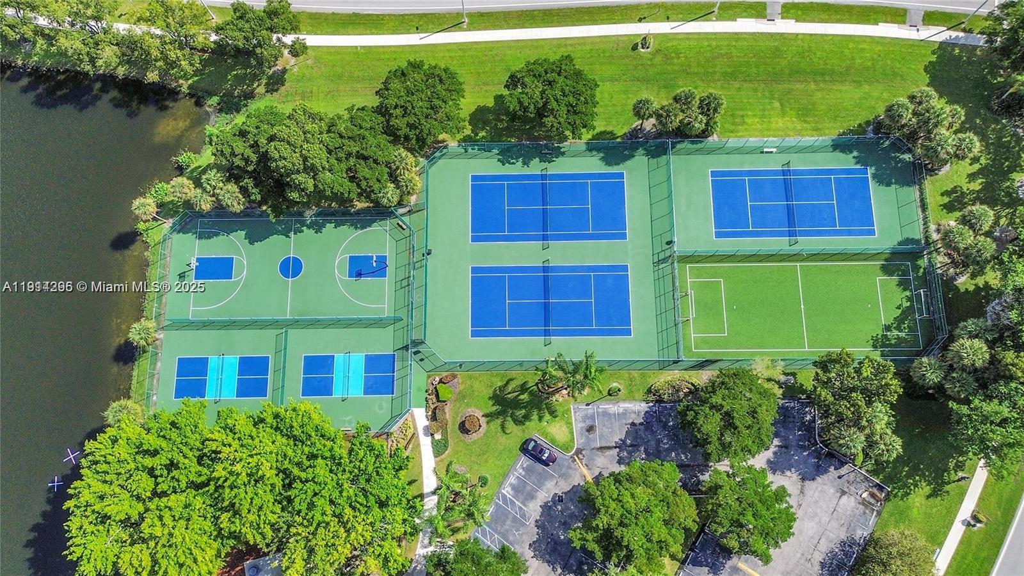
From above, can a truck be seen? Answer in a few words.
No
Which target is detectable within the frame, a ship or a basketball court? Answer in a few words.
basketball court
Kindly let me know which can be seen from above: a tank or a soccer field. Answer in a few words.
soccer field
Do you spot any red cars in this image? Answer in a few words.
No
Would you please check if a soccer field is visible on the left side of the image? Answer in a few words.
No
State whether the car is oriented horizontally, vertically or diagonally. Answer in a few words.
diagonally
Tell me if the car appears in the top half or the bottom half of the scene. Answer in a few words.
bottom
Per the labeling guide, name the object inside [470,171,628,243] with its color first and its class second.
blue tennis court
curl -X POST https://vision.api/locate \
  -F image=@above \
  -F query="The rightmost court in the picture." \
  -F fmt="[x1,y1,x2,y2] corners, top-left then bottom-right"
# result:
[711,168,877,239]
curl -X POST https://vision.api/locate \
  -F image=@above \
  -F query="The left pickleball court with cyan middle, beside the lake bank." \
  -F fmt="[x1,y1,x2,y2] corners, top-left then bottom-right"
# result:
[174,356,269,399]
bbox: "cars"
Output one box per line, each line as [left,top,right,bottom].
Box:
[522,437,557,465]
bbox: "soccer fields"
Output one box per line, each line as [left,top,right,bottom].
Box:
[678,254,935,360]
